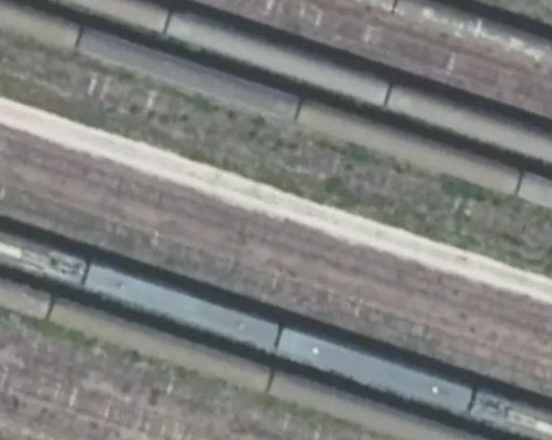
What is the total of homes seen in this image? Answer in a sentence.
The count of homes is 0.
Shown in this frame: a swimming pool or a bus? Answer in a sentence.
The image shows a bus.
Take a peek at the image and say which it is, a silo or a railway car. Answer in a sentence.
The image shows a railway car.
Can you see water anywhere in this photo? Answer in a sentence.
No, the picture contains no water.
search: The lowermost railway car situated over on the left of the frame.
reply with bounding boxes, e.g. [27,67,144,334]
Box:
[82,261,279,352]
